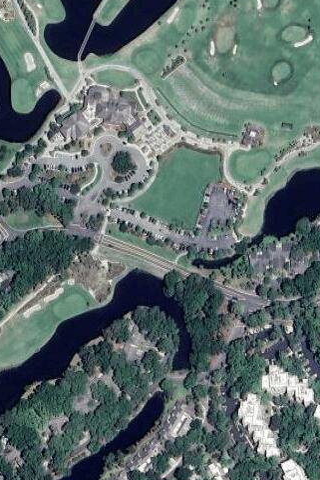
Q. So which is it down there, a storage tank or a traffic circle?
traffic circle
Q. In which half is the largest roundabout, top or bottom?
top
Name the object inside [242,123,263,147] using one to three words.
building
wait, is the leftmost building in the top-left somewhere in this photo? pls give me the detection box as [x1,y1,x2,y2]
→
[59,109,95,142]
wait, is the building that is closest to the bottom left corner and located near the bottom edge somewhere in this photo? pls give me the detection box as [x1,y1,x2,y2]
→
[0,443,26,465]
